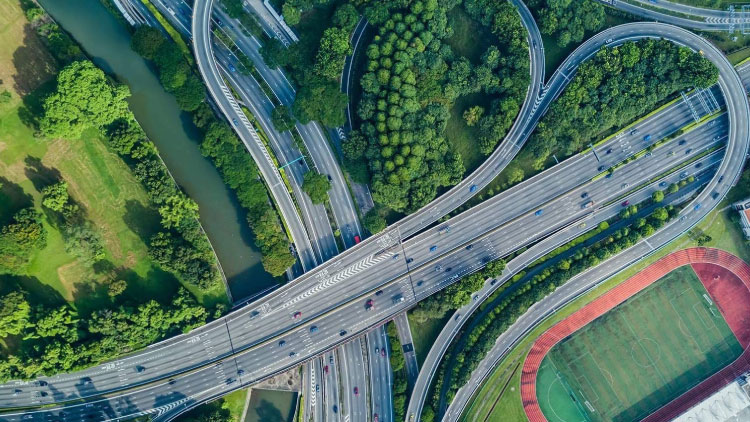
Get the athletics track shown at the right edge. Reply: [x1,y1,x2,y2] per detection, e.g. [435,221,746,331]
[520,247,750,422]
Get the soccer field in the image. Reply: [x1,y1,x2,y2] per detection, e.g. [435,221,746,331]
[546,264,746,422]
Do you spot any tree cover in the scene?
Yes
